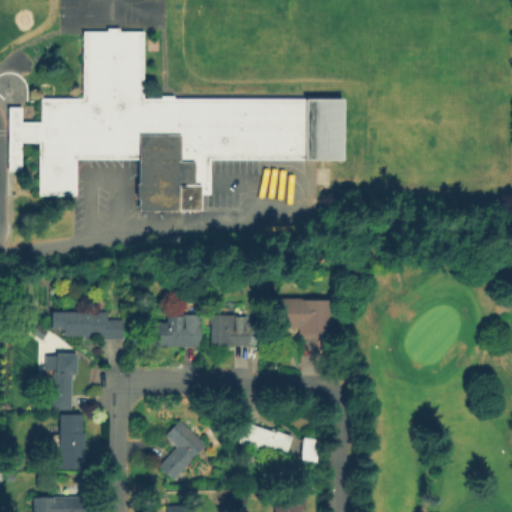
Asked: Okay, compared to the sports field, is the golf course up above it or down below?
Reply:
below it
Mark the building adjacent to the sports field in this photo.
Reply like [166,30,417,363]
[9,28,346,212]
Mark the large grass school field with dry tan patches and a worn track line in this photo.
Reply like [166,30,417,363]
[170,0,512,196]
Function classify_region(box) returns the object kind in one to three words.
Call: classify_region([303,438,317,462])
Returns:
building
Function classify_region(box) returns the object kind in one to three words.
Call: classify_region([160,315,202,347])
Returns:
house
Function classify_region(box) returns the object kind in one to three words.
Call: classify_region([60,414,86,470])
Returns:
house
